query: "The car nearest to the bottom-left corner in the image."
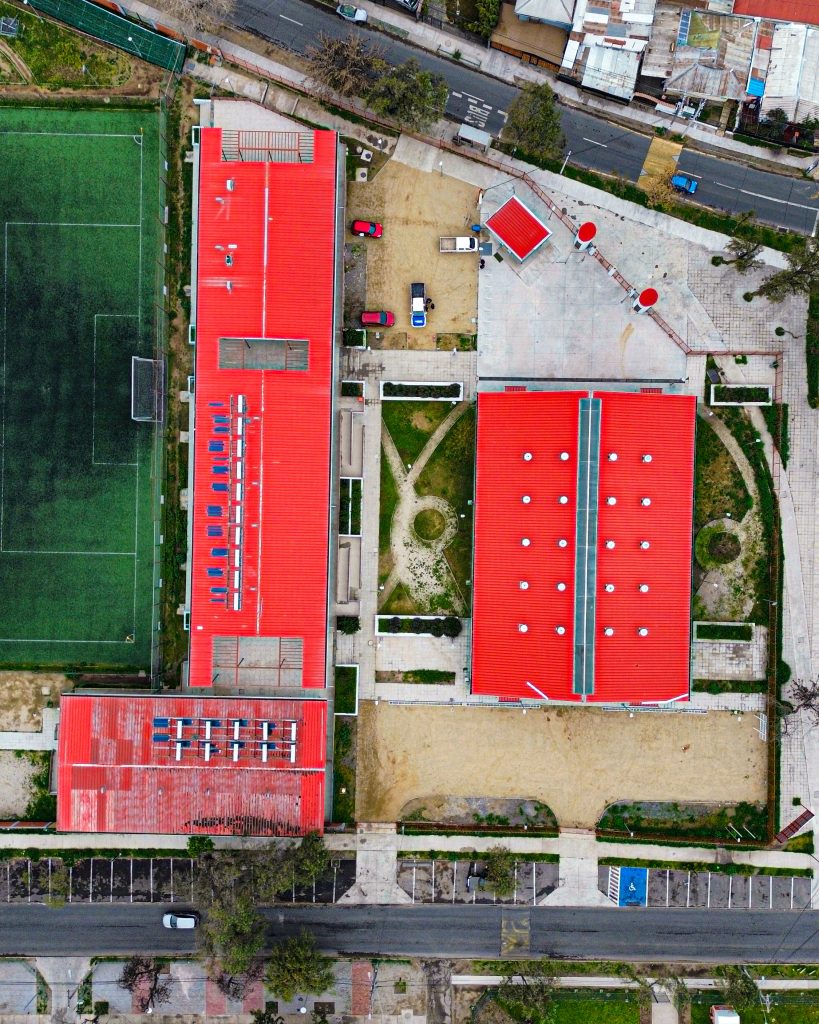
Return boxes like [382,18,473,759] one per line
[164,910,200,929]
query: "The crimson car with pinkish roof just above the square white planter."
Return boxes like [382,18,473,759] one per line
[361,309,395,327]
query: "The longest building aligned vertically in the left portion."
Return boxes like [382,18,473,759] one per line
[187,127,339,690]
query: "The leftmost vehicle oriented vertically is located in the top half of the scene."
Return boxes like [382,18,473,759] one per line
[410,283,427,327]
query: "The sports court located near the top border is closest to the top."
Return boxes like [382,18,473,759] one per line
[21,0,185,71]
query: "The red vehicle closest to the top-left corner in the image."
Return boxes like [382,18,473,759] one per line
[351,220,383,239]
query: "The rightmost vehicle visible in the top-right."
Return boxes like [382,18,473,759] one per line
[669,176,698,196]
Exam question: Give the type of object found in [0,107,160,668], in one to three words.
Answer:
soccer field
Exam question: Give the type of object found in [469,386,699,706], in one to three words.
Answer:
building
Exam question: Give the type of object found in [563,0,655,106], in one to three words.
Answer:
house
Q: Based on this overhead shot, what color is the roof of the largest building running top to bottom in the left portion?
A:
red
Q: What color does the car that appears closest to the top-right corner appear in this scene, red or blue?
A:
blue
